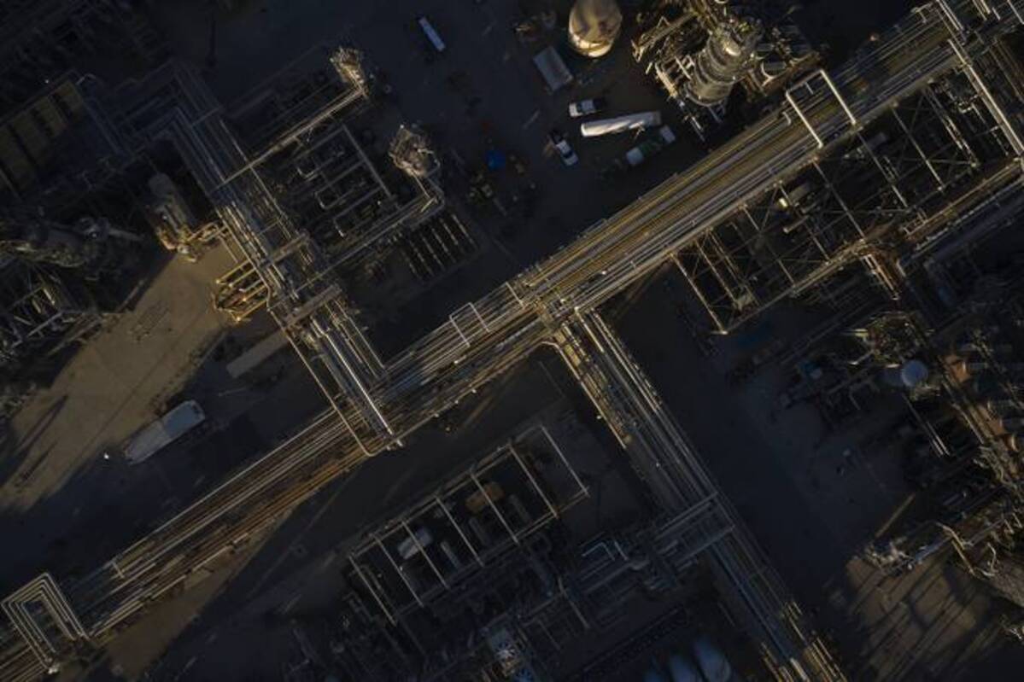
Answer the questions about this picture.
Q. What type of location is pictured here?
industrial area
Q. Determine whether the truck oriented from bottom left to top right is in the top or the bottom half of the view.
top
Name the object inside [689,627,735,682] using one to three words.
storage tank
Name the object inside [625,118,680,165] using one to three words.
truck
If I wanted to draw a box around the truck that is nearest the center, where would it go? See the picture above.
[551,128,579,162]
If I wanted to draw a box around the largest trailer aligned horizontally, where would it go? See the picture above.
[580,105,664,133]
